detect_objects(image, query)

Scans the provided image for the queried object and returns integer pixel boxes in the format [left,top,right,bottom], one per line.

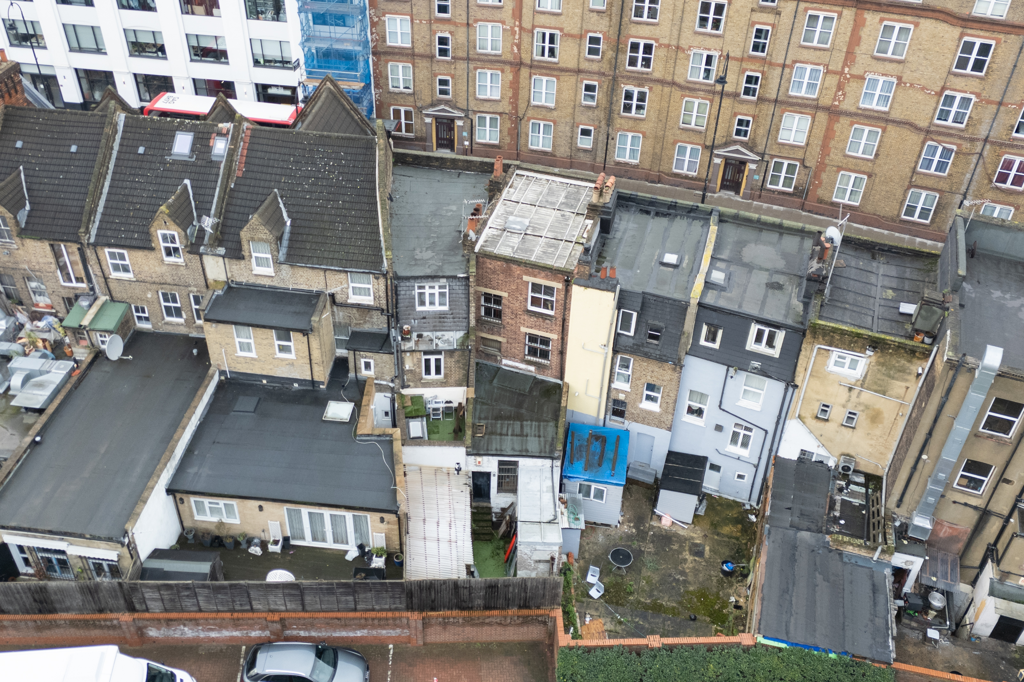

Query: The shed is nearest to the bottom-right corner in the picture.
[967,573,1024,648]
